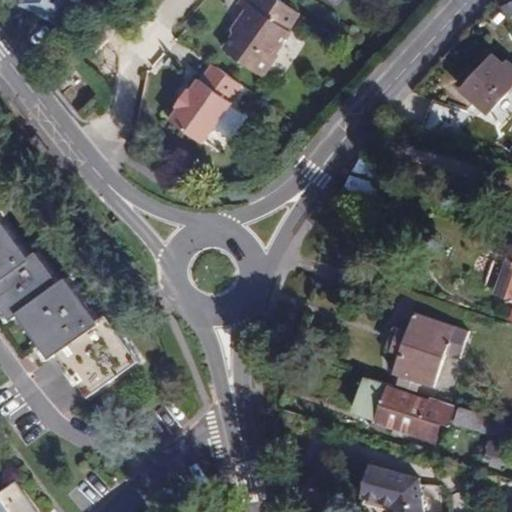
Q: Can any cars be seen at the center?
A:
Yes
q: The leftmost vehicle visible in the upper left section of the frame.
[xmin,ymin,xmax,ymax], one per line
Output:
[29,28,48,46]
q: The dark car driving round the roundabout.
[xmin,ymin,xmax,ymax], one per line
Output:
[226,238,244,260]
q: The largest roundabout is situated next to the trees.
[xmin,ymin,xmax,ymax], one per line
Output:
[137,192,303,392]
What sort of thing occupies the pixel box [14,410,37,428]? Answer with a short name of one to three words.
car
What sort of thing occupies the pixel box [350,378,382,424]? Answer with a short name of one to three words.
building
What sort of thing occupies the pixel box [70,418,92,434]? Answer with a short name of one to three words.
car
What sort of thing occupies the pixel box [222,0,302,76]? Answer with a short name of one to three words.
house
